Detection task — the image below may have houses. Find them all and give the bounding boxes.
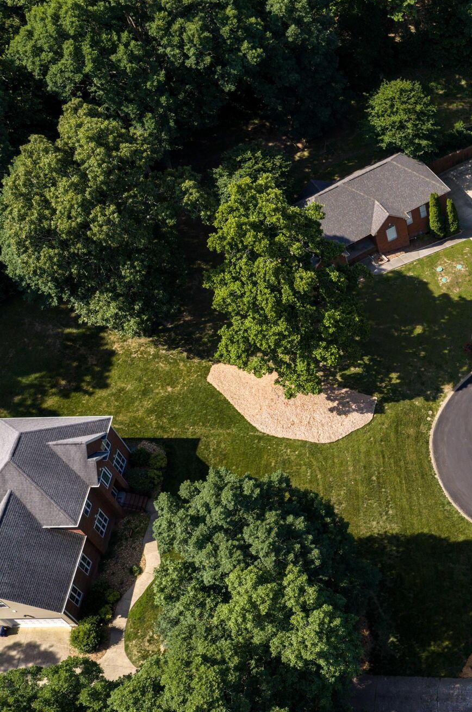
[254,143,451,280]
[0,415,160,627]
